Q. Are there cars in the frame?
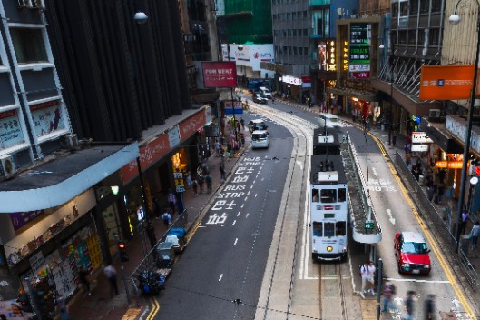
Yes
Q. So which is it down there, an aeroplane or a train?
train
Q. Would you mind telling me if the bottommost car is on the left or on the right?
right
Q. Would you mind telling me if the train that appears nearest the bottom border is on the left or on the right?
right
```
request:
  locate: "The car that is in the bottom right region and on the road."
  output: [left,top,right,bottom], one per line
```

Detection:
[388,226,431,269]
